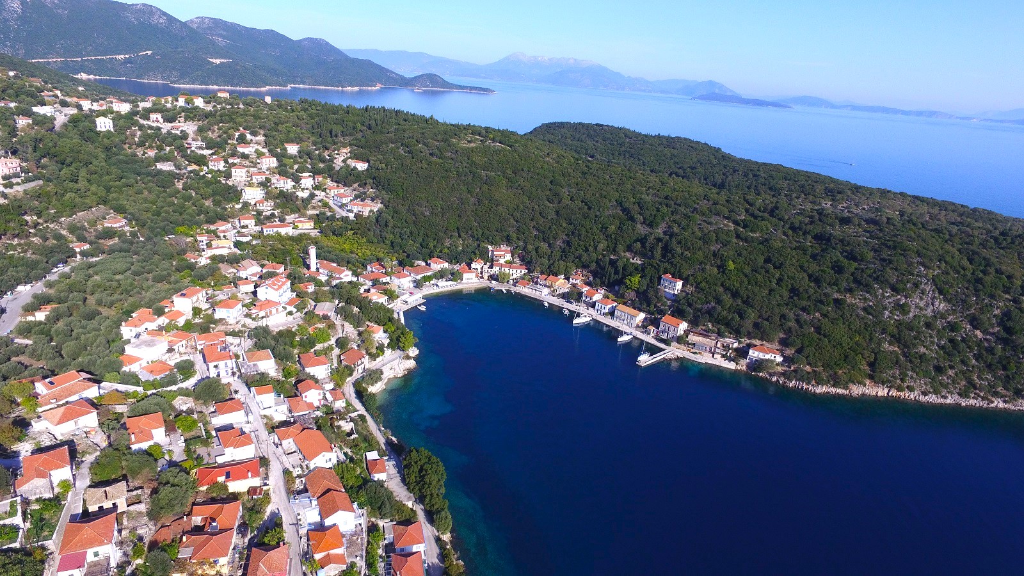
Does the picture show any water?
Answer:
Yes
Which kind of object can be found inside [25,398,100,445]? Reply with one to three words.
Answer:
house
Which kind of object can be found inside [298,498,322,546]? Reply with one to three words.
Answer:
house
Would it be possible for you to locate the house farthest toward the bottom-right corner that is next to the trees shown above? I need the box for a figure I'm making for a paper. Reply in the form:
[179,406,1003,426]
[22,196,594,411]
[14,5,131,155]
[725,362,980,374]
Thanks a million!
[749,345,779,366]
